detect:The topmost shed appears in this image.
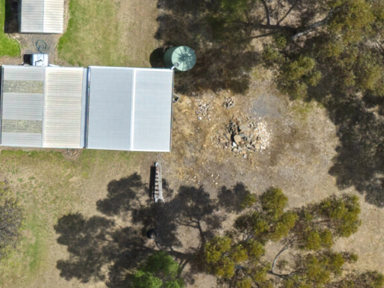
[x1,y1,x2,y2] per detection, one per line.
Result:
[16,0,65,34]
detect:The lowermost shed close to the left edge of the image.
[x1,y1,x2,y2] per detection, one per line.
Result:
[0,65,88,148]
